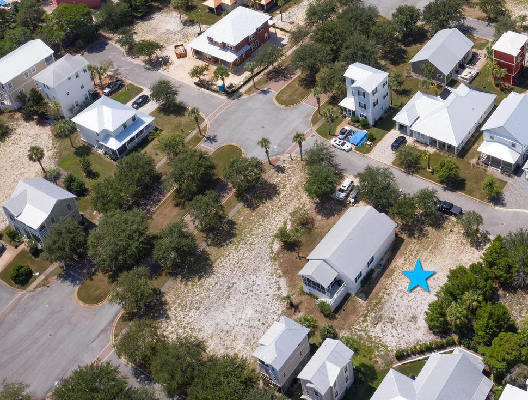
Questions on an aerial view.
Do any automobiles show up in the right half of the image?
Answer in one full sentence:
Yes, an automobile shows up in the right half of the image.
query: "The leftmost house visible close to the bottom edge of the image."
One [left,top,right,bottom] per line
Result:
[251,317,311,395]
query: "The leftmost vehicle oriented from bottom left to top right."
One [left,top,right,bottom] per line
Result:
[100,77,128,95]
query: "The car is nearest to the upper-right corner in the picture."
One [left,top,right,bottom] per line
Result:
[390,132,410,151]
